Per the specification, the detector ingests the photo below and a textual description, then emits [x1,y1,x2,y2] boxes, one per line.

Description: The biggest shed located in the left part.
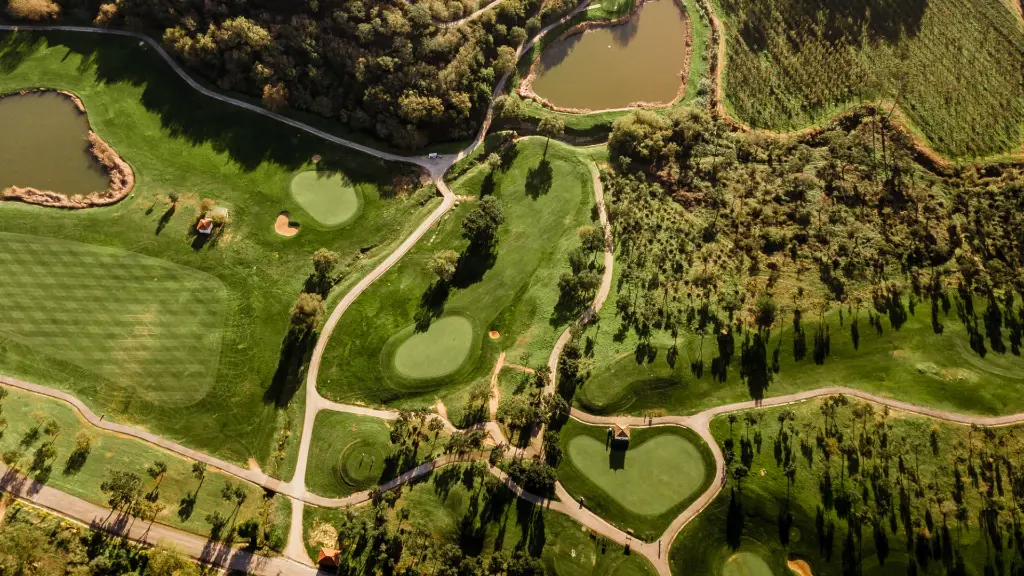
[316,548,341,571]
